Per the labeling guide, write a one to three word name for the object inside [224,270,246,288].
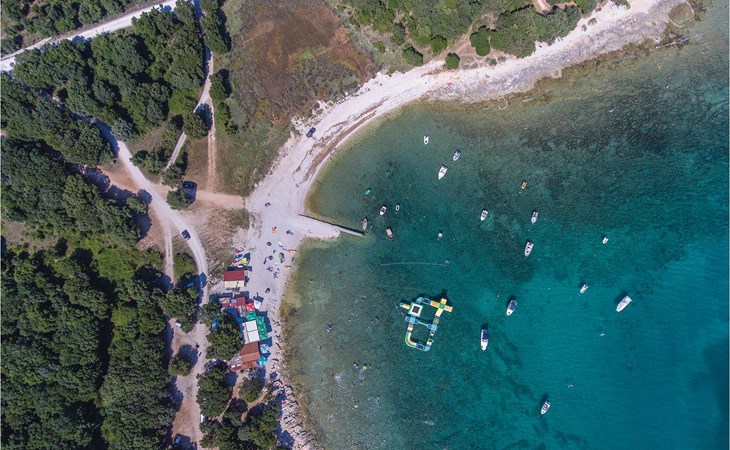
house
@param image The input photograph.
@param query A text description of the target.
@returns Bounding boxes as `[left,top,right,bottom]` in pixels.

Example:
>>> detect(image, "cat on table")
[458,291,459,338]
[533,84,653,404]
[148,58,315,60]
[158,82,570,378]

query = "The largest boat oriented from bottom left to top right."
[617,294,633,313]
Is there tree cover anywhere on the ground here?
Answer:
Yes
